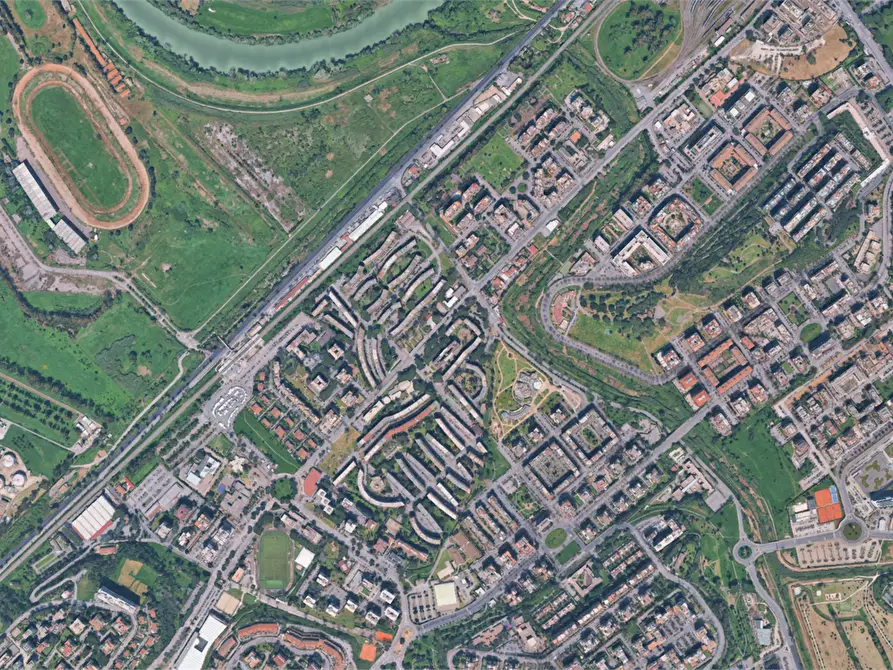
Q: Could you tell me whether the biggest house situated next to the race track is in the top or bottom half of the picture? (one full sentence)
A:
The top half of the photo is where the biggest house situated next to the race track is.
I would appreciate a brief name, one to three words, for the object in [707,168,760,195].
house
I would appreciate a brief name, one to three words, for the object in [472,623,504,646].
building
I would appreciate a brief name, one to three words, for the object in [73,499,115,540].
shed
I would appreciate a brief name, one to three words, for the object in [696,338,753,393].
house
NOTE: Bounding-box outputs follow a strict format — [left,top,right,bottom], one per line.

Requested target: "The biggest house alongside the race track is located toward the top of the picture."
[72,18,106,66]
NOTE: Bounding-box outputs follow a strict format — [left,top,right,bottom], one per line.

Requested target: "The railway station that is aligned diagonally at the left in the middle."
[215,334,262,380]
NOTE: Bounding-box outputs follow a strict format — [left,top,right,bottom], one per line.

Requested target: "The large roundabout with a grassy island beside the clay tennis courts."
[836,516,868,547]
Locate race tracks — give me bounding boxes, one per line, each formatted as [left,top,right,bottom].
[11,64,148,229]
